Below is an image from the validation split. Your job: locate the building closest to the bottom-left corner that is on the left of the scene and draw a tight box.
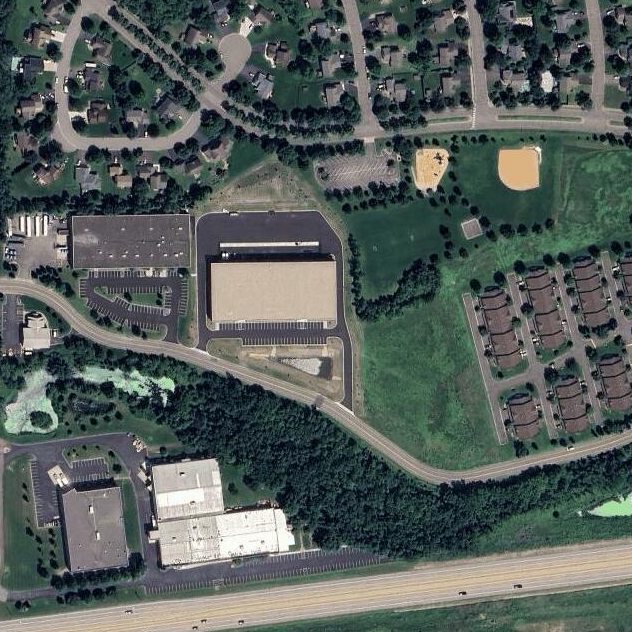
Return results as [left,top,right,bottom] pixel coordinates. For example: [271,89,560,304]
[63,487,129,572]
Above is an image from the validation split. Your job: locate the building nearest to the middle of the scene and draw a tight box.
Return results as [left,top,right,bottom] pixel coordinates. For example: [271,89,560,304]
[211,261,337,321]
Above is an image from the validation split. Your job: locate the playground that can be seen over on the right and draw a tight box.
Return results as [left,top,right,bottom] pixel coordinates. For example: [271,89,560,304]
[412,147,450,196]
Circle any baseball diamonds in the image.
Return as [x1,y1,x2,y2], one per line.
[498,147,541,191]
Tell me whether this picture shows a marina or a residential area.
residential area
